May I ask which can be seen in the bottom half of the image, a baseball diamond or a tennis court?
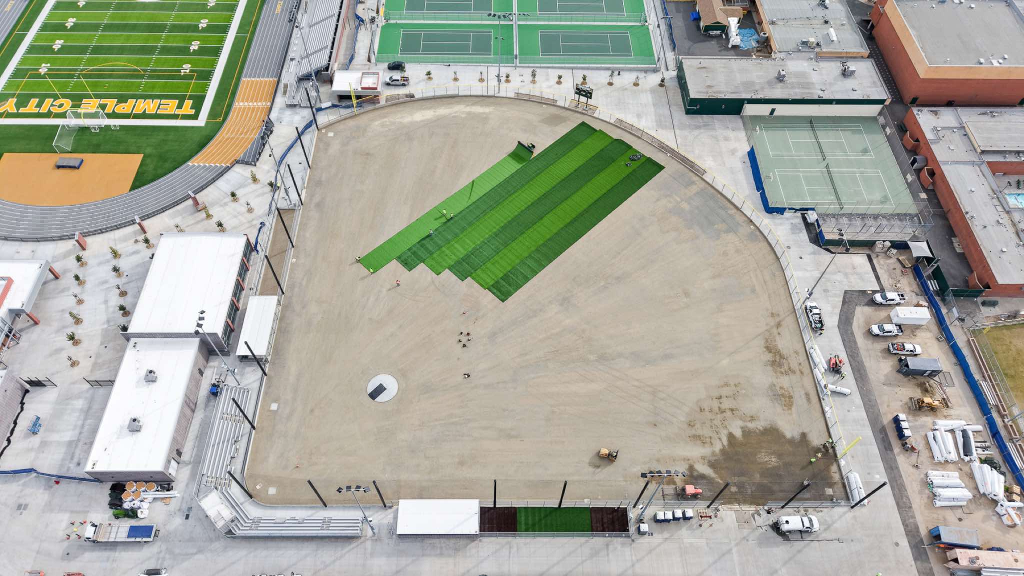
baseball diamond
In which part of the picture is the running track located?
top left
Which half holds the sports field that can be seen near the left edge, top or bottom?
top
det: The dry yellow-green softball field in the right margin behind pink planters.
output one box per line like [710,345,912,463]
[970,325,1024,443]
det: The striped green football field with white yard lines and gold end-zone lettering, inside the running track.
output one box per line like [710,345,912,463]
[0,0,268,205]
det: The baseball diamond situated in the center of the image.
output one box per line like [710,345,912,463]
[246,94,855,506]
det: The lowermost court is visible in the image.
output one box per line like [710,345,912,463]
[742,115,922,215]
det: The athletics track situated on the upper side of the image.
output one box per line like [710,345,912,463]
[0,0,301,238]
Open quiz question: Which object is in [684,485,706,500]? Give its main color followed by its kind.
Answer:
red work vehicle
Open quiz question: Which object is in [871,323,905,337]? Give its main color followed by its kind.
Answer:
white vehicle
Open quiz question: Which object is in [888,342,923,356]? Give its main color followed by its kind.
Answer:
white vehicle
